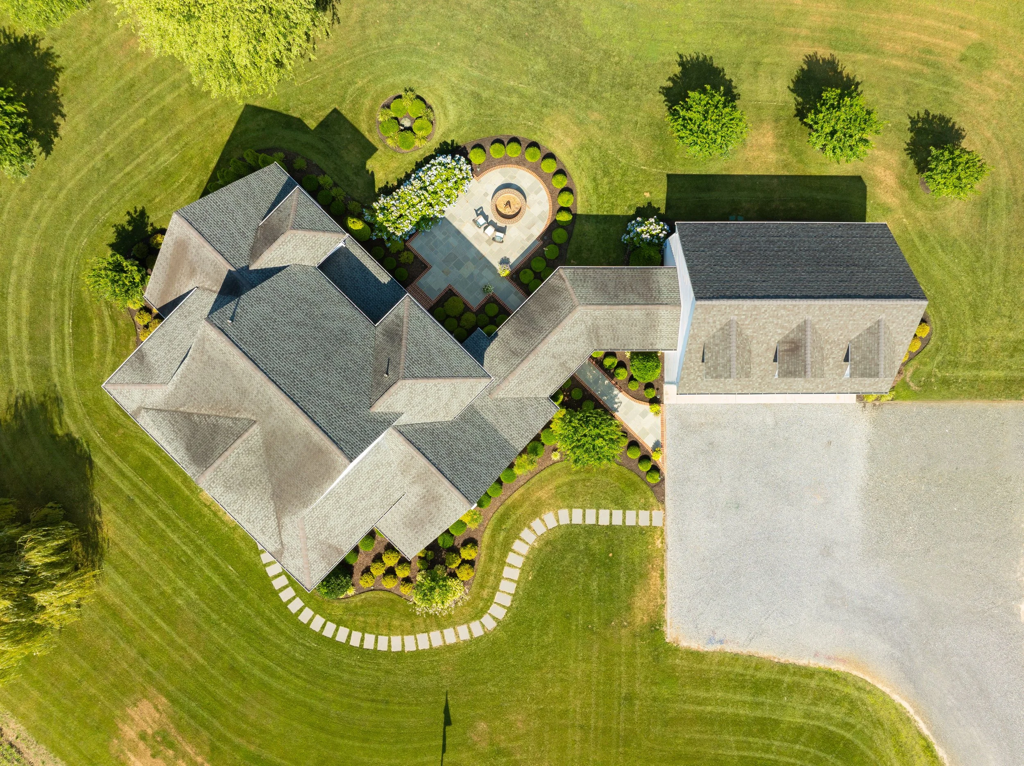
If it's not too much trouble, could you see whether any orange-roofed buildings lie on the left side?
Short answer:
No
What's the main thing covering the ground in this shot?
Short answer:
grass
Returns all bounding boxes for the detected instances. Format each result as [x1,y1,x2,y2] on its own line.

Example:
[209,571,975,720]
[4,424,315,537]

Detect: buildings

[100,162,561,594]
[664,220,929,396]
